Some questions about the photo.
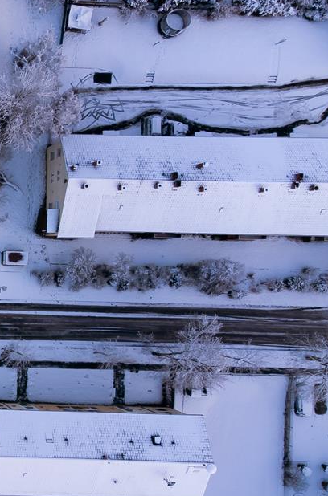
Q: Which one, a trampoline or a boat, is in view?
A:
trampoline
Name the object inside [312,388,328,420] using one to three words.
car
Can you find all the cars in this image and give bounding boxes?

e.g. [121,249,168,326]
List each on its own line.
[312,388,328,420]
[294,386,310,417]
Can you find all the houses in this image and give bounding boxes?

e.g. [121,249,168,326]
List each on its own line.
[46,135,328,252]
[0,403,217,496]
